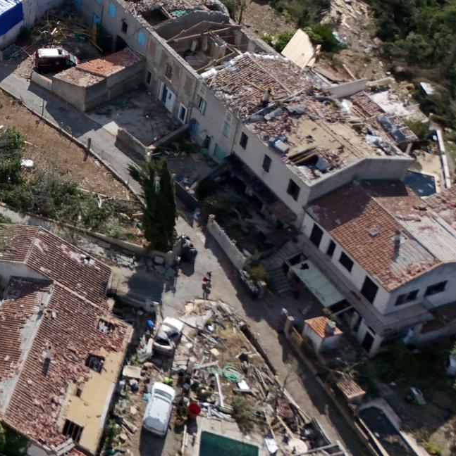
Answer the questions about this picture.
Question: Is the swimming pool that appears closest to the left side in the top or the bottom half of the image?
bottom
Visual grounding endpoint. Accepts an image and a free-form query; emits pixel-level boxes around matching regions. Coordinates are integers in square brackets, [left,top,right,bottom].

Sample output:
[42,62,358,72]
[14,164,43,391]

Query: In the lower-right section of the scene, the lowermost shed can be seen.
[335,377,365,408]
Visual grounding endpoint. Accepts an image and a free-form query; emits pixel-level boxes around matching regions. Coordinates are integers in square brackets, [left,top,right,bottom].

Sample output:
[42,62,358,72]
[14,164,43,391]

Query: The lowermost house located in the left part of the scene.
[0,275,134,456]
